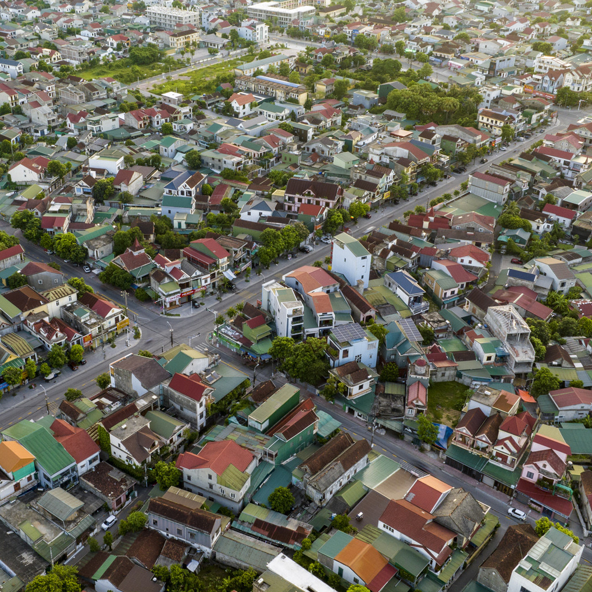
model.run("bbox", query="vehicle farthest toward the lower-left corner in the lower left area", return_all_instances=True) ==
[99,512,120,531]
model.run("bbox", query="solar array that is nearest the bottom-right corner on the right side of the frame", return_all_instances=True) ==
[403,318,423,345]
